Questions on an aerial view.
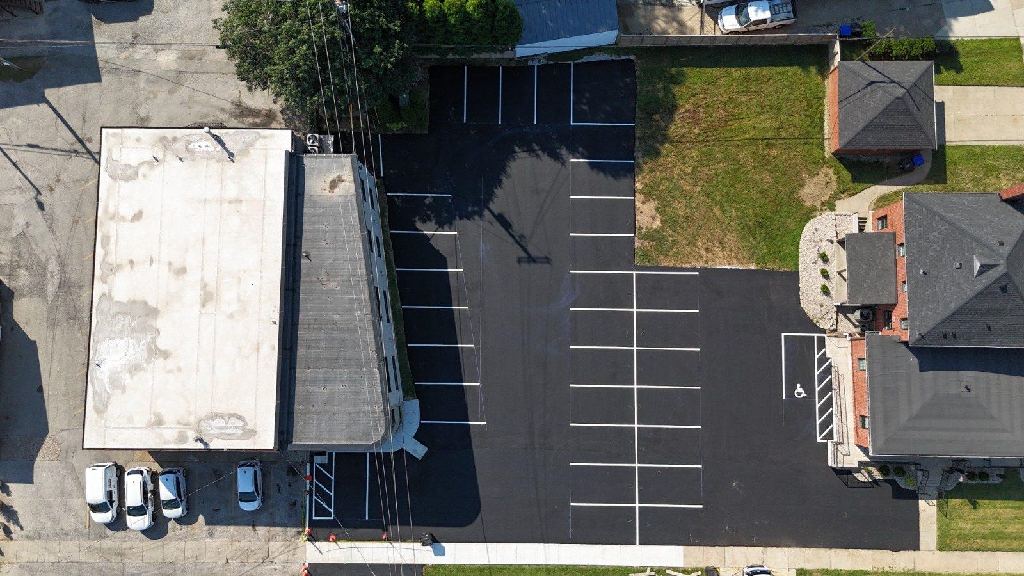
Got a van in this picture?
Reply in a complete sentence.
Yes, there is a van in the image.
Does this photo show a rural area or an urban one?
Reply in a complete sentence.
From above, the setting appears urban.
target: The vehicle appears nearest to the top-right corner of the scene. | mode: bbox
[718,0,799,34]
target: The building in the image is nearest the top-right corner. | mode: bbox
[824,60,938,157]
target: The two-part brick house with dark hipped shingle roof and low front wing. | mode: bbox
[832,185,1024,459]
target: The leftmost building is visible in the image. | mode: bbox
[82,127,312,451]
